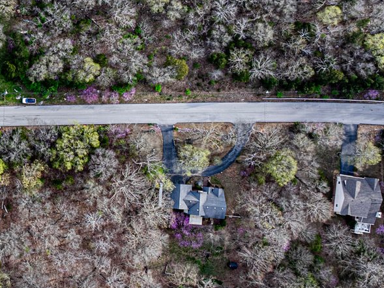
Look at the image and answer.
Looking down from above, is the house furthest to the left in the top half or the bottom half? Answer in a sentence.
Seen from above, the house furthest to the left lies in the bottom half of the view.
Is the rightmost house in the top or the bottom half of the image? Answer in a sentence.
The rightmost house sits in the bottom half of the picture.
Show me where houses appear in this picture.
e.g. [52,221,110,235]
[169,184,228,226]
[335,176,383,234]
